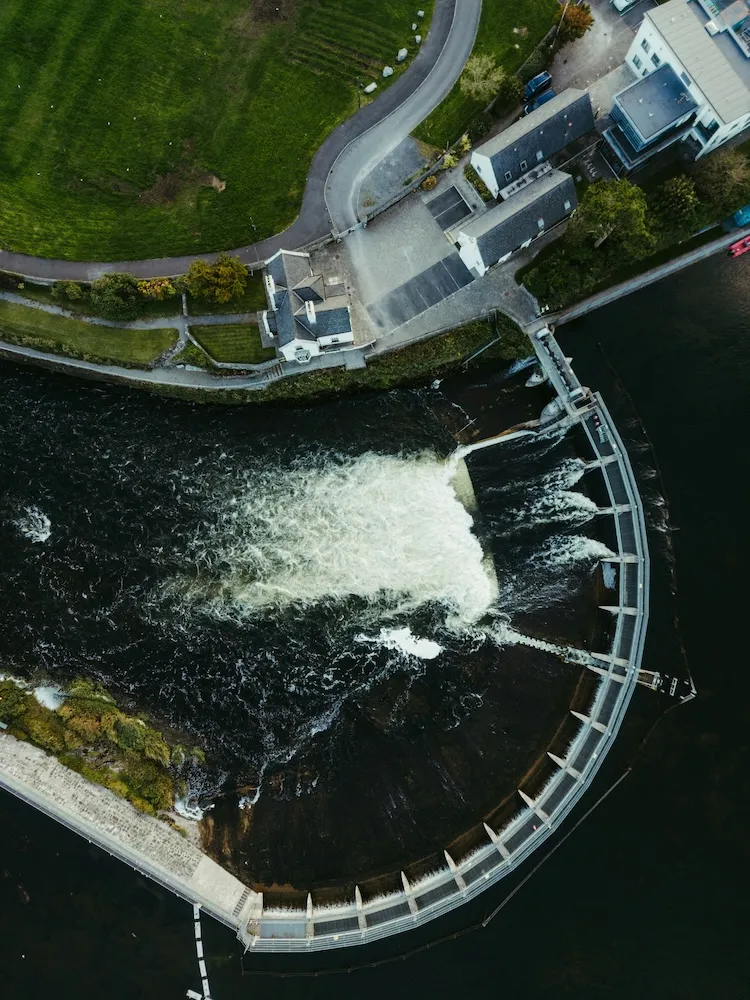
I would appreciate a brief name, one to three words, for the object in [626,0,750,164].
building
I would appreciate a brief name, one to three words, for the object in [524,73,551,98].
car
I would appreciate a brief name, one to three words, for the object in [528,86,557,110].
car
